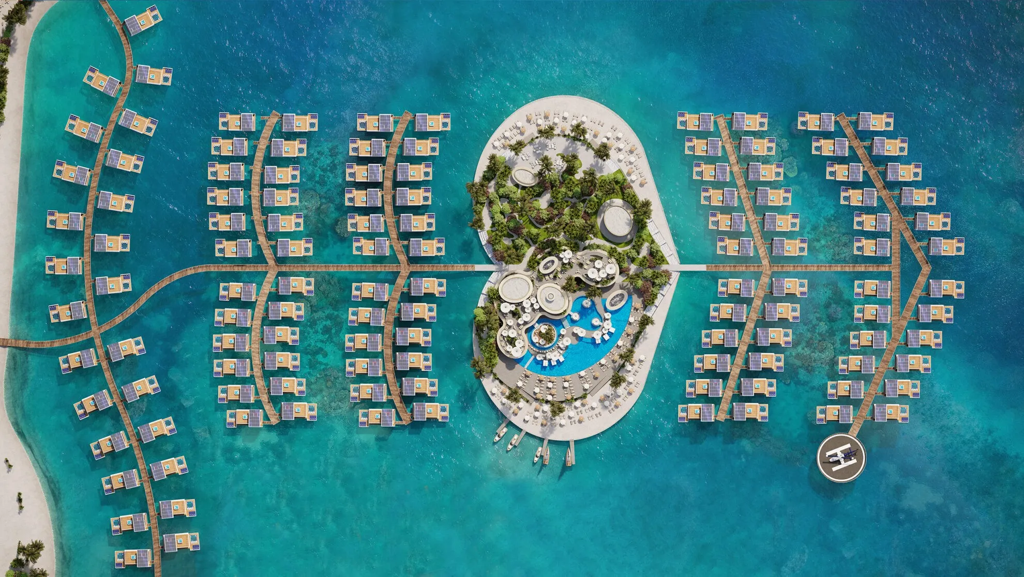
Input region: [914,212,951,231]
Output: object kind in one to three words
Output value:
house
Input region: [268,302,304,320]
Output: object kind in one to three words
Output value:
house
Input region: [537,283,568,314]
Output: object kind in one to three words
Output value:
building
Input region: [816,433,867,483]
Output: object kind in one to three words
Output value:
helipad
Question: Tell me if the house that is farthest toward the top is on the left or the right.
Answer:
left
